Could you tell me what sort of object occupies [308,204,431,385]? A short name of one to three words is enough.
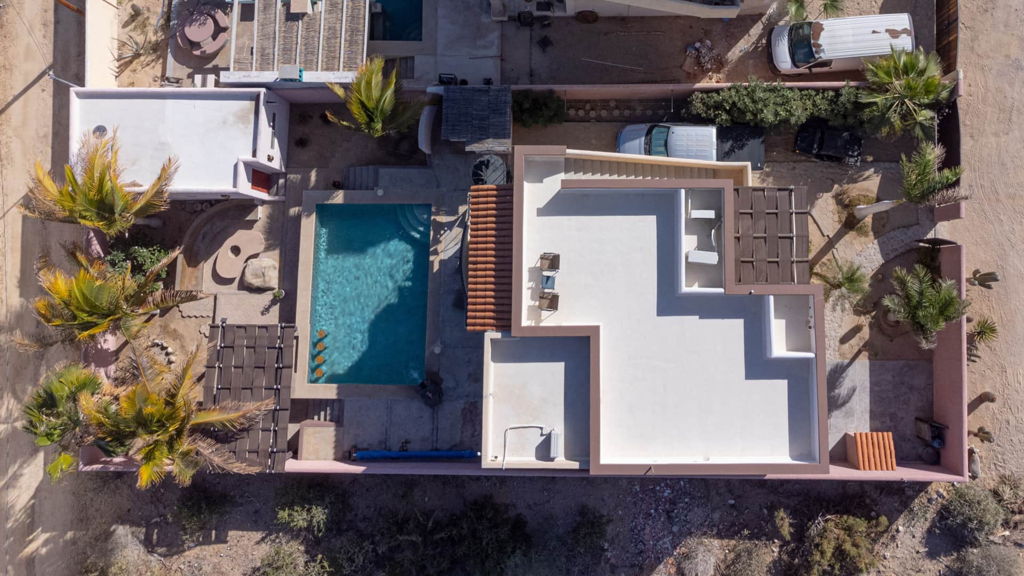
swimming pool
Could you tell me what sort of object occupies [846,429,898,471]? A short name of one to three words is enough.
shed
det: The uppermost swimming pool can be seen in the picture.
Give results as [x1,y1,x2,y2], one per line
[369,0,422,41]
